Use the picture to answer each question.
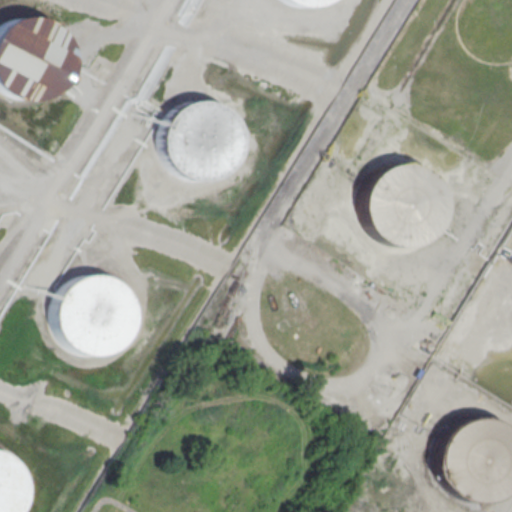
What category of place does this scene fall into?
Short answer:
industrial area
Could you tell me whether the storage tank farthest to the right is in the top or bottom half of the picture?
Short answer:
bottom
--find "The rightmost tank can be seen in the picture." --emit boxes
[426,414,512,508]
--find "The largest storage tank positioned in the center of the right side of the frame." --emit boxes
[352,161,454,255]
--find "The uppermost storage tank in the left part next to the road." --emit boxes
[0,16,82,108]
